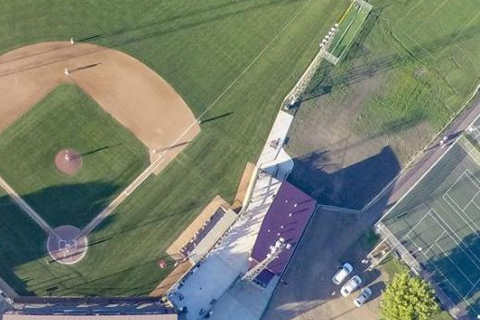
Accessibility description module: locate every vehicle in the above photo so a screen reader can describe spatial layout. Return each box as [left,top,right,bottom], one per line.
[354,288,372,309]
[332,264,353,286]
[341,276,361,298]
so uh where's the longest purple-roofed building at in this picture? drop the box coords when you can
[241,181,317,279]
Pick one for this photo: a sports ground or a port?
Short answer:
sports ground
